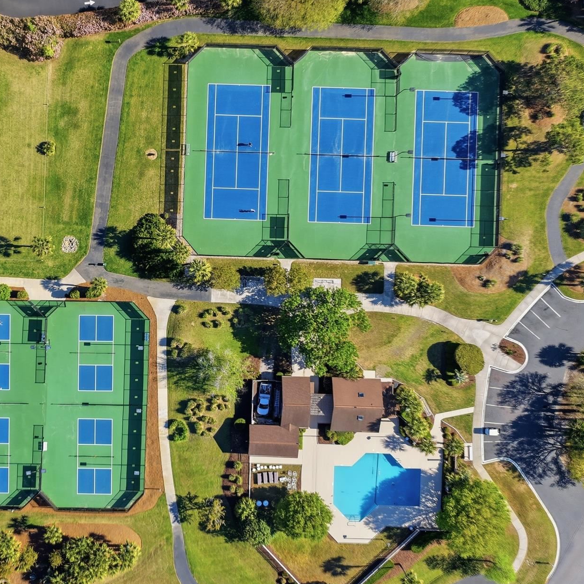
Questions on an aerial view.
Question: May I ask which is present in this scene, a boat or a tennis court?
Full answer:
The one in the frame is a tennis court.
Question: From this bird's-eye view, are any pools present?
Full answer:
Yes, a pool can be made out from above.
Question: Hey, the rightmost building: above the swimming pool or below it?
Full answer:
It's above the swimming pool that the rightmost building shows up.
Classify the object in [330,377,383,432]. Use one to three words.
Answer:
building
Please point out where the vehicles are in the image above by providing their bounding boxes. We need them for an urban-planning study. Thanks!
[482,426,500,437]
[257,382,272,416]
